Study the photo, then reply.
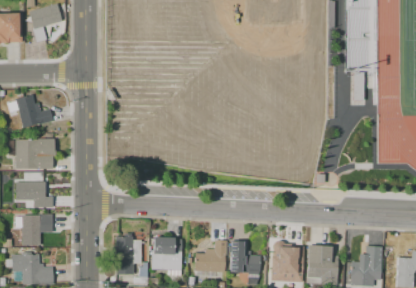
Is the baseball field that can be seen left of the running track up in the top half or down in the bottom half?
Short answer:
top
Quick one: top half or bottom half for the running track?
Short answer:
top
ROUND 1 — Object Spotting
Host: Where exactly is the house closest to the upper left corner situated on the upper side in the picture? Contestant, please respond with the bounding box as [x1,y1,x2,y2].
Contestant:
[0,12,22,43]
